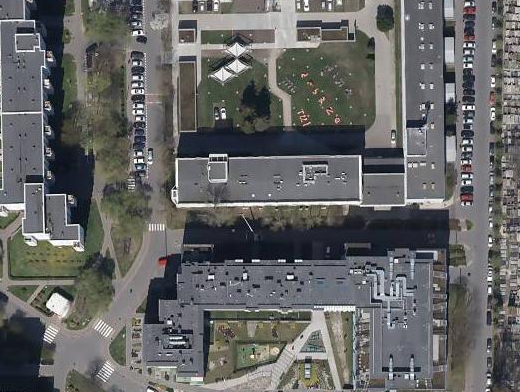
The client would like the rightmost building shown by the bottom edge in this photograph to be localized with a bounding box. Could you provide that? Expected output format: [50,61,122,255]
[138,249,447,392]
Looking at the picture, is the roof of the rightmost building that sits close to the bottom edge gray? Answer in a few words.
Yes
